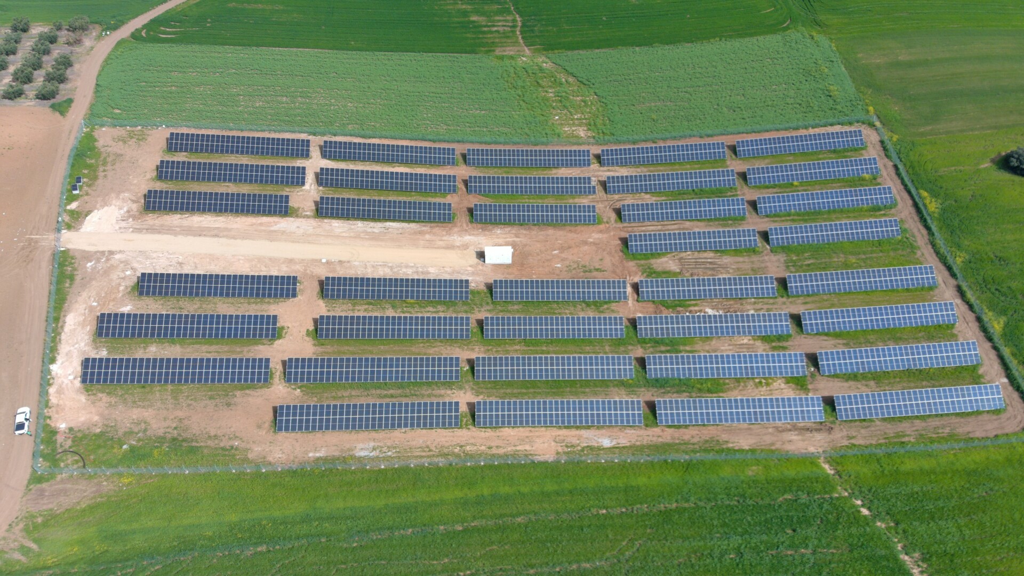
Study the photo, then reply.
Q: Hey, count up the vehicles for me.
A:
1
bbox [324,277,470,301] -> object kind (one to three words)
solar array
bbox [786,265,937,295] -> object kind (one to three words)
solar array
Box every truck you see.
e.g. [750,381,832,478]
[14,407,35,436]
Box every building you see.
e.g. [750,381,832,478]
[484,245,513,264]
